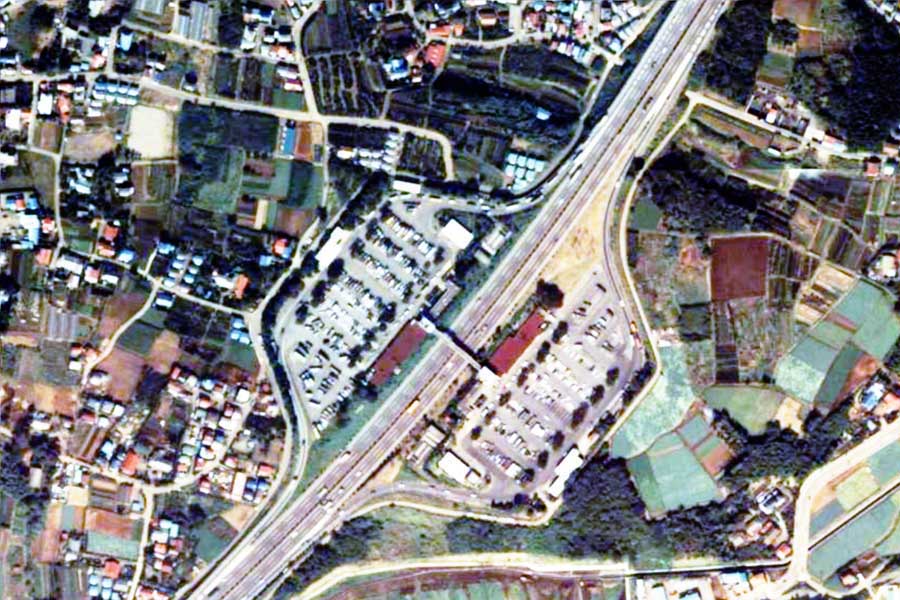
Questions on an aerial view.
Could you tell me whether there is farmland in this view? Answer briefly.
Yes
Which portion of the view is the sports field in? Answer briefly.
top left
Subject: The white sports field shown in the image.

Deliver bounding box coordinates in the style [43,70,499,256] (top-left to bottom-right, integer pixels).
[126,104,176,158]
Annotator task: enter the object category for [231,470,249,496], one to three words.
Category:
building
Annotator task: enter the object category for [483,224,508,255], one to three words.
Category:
house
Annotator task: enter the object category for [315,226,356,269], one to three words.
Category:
building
